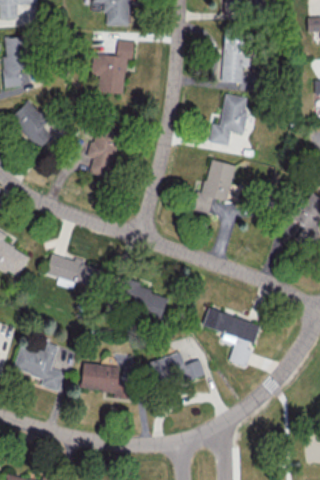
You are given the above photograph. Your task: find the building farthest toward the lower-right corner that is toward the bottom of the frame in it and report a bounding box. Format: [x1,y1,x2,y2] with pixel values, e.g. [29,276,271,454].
[230,336,253,366]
